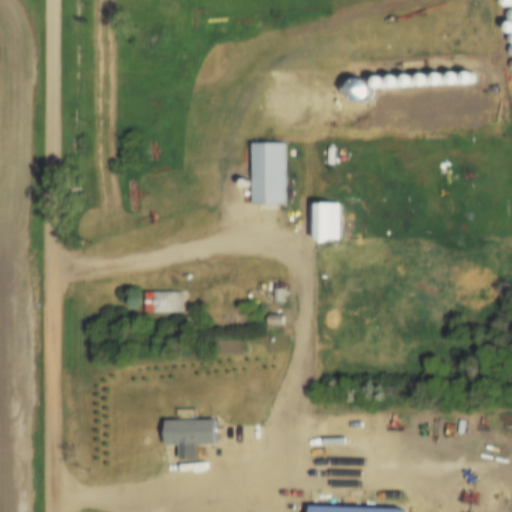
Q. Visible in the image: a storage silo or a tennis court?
storage silo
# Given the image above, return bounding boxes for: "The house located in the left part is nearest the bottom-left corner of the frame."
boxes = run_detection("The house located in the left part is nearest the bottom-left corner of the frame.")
[162,410,218,459]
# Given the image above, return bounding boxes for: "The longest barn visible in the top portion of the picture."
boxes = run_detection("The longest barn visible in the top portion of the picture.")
[252,142,288,210]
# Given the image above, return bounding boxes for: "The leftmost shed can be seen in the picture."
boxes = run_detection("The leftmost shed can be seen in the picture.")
[144,292,189,313]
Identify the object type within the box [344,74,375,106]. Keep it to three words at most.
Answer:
silo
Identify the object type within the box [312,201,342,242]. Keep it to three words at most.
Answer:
shed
